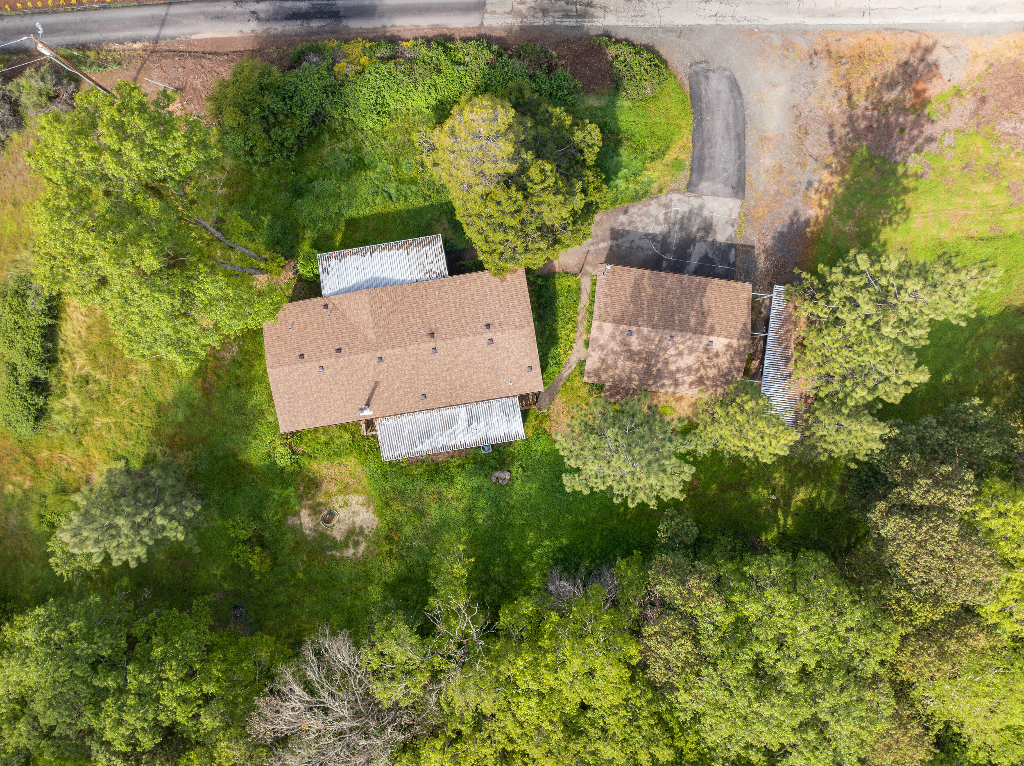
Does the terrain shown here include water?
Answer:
No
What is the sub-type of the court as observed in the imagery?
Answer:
basketball court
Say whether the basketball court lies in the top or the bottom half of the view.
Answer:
top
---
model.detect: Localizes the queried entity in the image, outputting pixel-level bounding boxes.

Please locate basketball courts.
[541,191,743,279]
